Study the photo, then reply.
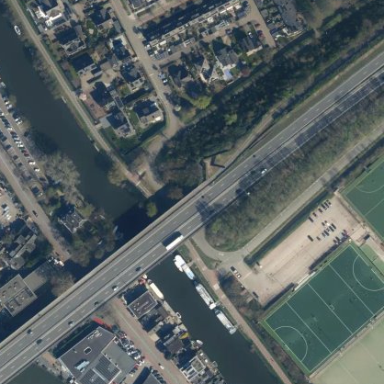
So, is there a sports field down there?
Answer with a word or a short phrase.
Yes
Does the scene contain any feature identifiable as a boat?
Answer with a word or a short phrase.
Yes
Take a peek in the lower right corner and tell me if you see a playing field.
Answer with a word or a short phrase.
Yes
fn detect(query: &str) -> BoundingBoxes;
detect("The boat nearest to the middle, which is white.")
[172,254,195,282]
